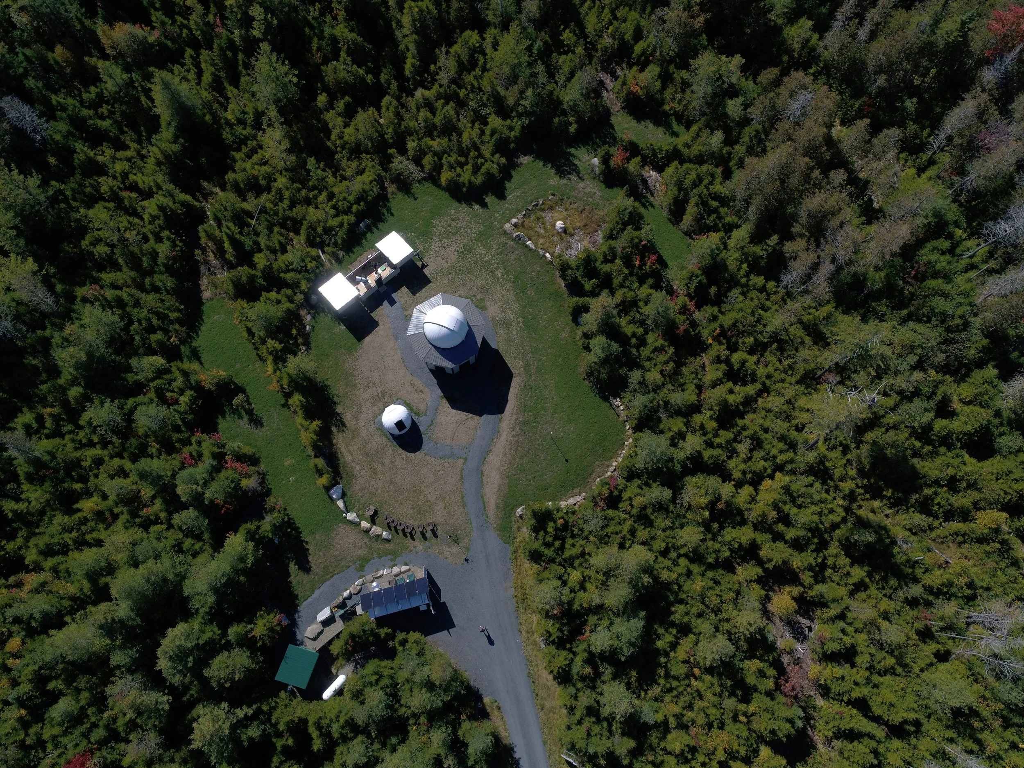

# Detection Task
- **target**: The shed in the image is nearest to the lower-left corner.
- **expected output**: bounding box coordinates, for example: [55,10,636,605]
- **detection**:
[276,643,322,689]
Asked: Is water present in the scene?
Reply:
No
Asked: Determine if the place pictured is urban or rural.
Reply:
rural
